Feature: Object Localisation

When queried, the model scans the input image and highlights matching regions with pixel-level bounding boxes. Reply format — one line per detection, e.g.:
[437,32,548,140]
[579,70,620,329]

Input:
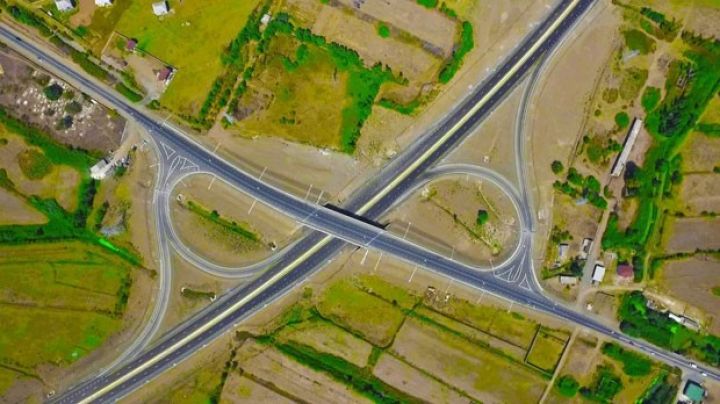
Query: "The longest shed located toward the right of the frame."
[610,118,643,177]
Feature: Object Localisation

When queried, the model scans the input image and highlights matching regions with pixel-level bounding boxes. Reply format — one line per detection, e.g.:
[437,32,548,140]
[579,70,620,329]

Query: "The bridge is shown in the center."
[292,200,393,254]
